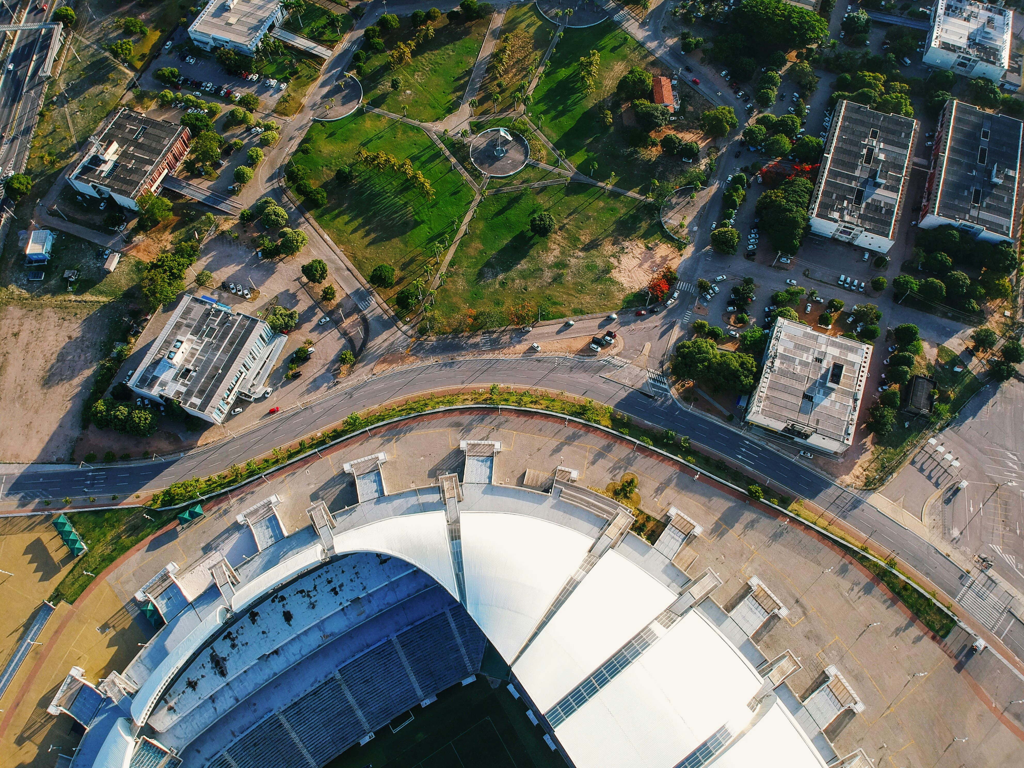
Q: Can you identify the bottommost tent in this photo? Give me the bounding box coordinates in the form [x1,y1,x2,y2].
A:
[139,602,164,631]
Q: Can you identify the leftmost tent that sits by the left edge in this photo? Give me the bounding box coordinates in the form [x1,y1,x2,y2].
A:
[51,513,93,560]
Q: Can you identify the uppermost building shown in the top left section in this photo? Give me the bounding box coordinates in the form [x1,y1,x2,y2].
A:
[186,0,297,68]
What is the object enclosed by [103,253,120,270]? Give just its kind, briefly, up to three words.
vehicle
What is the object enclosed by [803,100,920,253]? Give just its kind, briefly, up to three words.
building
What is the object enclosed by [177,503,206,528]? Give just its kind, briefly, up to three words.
tent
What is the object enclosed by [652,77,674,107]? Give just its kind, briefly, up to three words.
house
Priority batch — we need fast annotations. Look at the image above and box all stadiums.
[50,443,874,768]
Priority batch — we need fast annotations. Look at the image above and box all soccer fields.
[317,669,570,768]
